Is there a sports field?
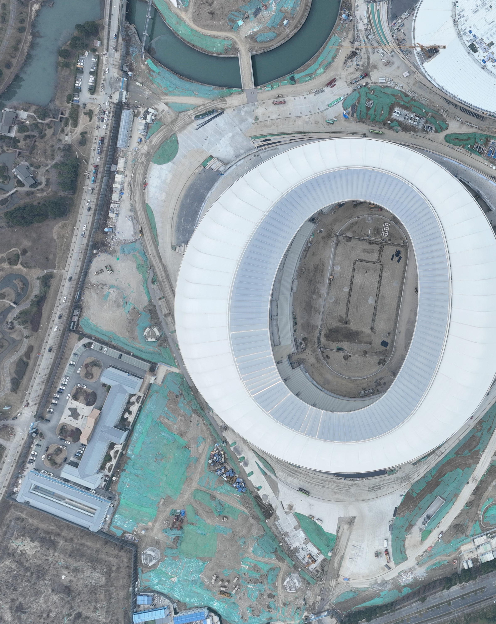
Yes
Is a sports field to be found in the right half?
Yes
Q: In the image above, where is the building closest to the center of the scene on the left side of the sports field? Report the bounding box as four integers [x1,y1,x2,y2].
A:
[104,364,147,393]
